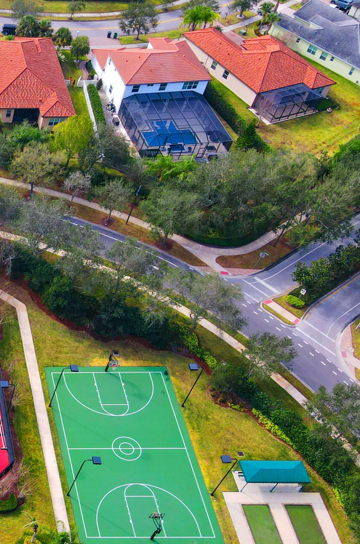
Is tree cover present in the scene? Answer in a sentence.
Yes, there is tree cover in the image.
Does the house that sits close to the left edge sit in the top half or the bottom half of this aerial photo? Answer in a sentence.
You can find the house that sits close to the left edge in the top half.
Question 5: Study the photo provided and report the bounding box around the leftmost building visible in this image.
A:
[0,36,76,130]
